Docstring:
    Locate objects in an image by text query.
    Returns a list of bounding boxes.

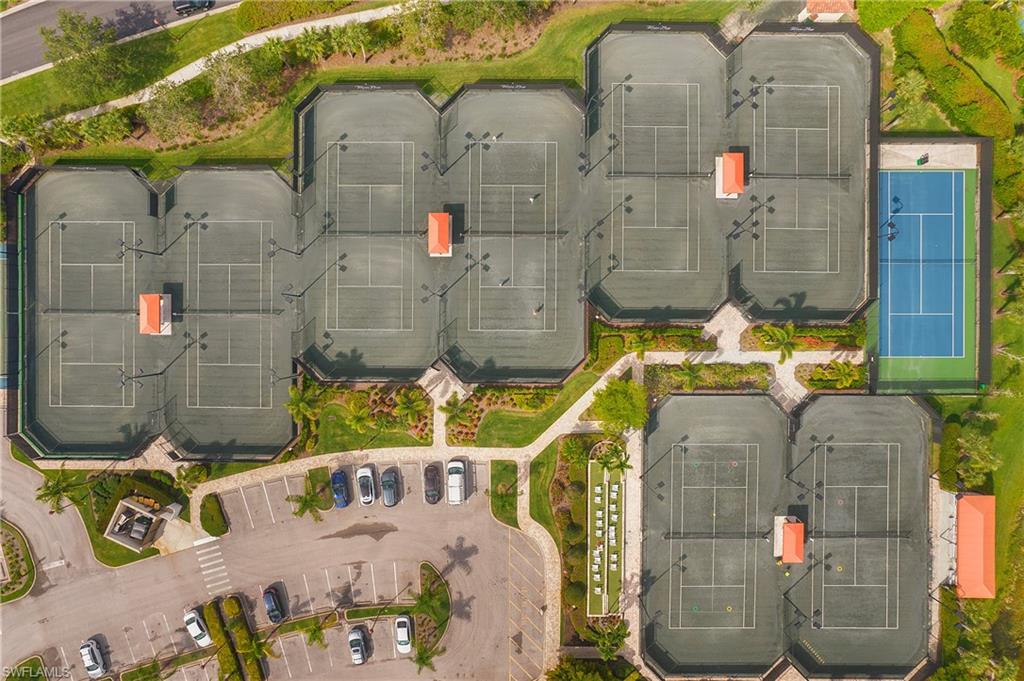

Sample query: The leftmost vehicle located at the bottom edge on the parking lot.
[78,639,105,677]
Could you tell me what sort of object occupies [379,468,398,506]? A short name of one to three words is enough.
car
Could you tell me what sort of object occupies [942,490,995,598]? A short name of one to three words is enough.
building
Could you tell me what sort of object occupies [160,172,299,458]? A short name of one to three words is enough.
tennis court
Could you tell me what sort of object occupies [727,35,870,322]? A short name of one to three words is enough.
tennis court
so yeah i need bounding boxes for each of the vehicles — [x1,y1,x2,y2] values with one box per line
[379,468,398,506]
[260,586,283,624]
[356,467,375,504]
[395,616,413,653]
[348,627,367,666]
[447,461,465,505]
[176,0,213,15]
[330,469,349,508]
[182,610,209,647]
[78,639,105,677]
